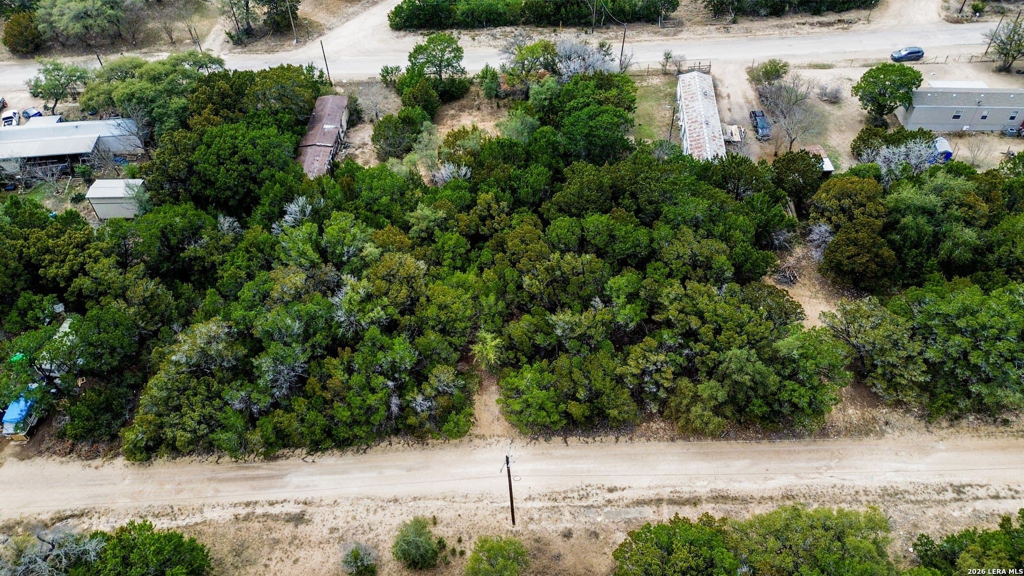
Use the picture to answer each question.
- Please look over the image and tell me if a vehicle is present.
Yes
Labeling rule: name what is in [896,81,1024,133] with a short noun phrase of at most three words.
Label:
house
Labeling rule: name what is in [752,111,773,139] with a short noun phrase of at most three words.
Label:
truck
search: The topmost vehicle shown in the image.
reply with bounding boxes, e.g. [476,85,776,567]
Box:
[888,42,929,61]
